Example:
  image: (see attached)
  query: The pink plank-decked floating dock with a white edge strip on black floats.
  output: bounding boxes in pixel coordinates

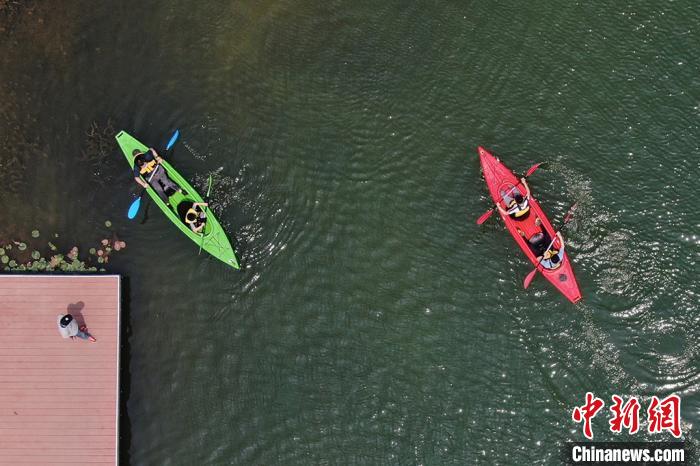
[0,273,131,466]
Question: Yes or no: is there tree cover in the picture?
No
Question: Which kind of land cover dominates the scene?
water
